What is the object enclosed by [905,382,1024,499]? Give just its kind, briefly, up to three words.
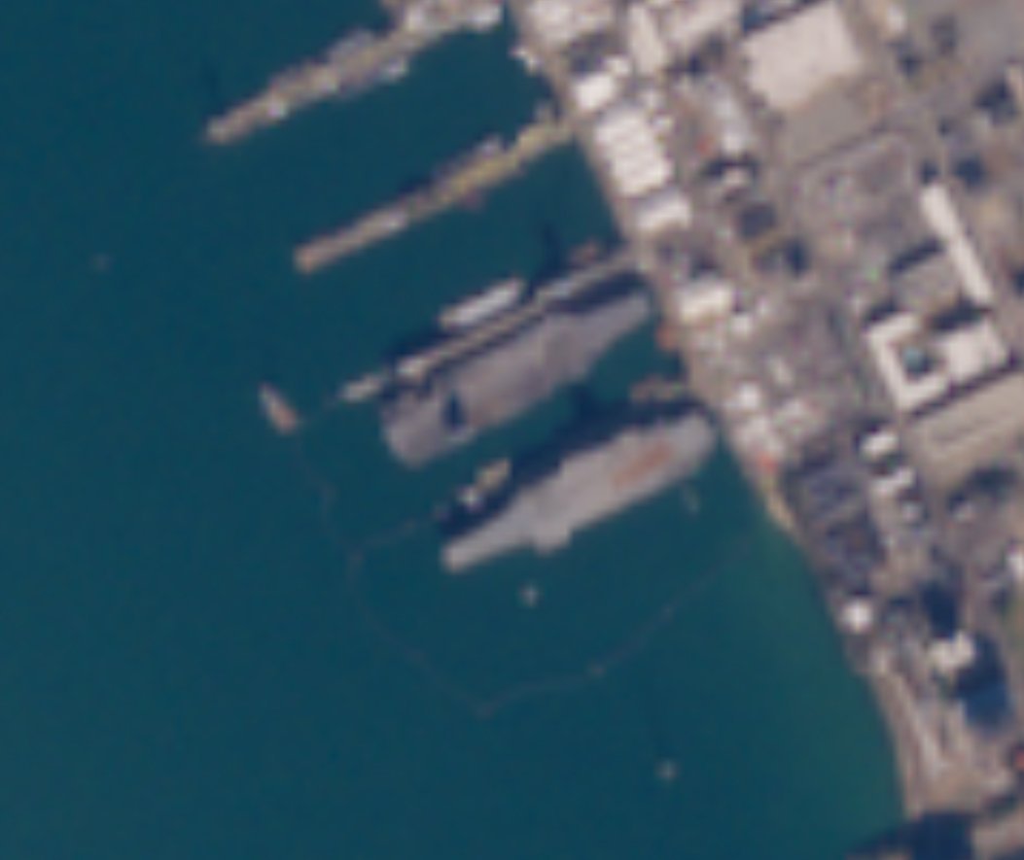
building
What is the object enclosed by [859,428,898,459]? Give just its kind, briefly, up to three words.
shed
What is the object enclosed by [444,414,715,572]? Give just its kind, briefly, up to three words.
ship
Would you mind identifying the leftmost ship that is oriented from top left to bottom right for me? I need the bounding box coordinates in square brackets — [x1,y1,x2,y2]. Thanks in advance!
[262,390,300,432]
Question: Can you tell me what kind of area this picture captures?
port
